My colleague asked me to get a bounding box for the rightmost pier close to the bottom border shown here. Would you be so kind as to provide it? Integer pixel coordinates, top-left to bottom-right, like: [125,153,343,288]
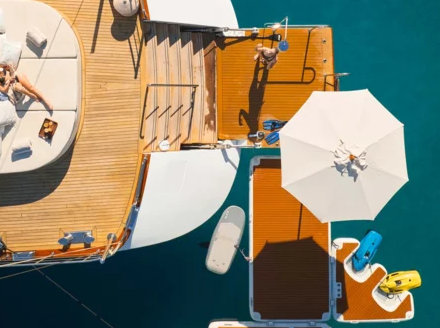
[332,238,413,322]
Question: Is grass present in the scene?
No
